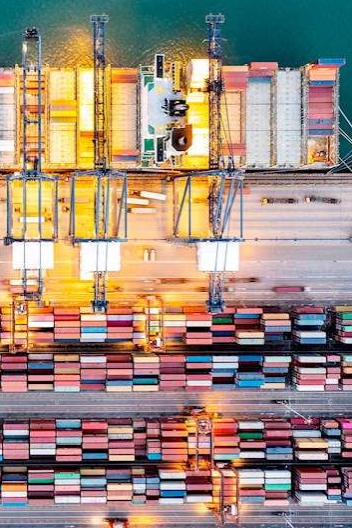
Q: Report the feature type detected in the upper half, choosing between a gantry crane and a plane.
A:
gantry crane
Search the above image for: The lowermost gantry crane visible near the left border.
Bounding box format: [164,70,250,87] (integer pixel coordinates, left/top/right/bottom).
[6,295,35,358]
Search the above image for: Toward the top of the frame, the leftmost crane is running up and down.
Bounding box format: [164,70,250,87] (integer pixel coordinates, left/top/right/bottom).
[1,27,65,310]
